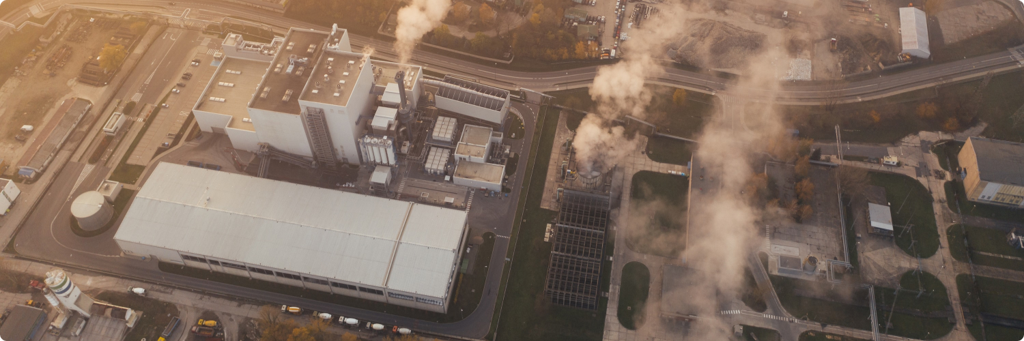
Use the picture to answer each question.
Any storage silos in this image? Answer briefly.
Yes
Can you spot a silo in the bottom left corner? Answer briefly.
Yes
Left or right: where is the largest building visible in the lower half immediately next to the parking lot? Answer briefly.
left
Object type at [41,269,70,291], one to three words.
silo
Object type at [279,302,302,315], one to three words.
vehicle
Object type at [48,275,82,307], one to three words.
silo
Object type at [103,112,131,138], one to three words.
house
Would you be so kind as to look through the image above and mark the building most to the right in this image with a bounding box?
[952,137,1024,209]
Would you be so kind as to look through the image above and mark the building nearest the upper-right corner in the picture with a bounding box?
[892,4,933,62]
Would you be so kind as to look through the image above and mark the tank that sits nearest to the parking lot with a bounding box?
[71,190,119,235]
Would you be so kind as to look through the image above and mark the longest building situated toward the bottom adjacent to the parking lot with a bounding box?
[113,161,469,314]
